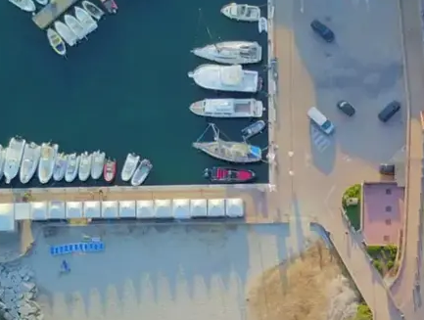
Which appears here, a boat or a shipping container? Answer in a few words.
boat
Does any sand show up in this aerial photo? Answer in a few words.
Yes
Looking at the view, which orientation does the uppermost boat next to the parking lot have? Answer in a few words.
horizontally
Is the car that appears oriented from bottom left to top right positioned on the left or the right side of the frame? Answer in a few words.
right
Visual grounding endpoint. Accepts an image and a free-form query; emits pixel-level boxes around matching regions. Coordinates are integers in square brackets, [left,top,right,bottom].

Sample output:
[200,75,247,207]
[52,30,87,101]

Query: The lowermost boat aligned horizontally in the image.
[202,165,254,184]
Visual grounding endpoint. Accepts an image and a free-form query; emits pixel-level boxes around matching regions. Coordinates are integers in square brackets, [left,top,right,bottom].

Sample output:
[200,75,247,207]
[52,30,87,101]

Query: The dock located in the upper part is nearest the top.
[33,0,73,29]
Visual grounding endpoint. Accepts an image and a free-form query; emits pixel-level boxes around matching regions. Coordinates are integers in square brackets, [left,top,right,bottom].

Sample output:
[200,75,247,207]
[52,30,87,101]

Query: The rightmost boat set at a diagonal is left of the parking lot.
[234,121,265,140]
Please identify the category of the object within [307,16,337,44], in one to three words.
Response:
car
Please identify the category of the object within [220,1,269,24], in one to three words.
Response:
boat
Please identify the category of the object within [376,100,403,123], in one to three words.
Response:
car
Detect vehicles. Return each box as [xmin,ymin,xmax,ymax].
[307,16,337,44]
[377,163,399,175]
[305,104,335,133]
[376,100,403,123]
[335,97,358,119]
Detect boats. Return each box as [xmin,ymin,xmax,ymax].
[90,146,107,180]
[0,143,7,182]
[121,149,141,186]
[54,22,81,50]
[53,149,69,186]
[257,15,267,36]
[100,0,119,16]
[77,147,93,188]
[133,155,154,186]
[47,28,70,59]
[73,4,101,34]
[191,24,263,63]
[220,1,269,24]
[64,13,89,42]
[84,0,107,23]
[104,153,118,188]
[10,0,36,11]
[2,133,27,187]
[190,96,270,120]
[192,136,268,165]
[234,121,265,140]
[187,61,264,95]
[38,139,59,187]
[21,140,41,185]
[64,148,82,189]
[202,165,254,184]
